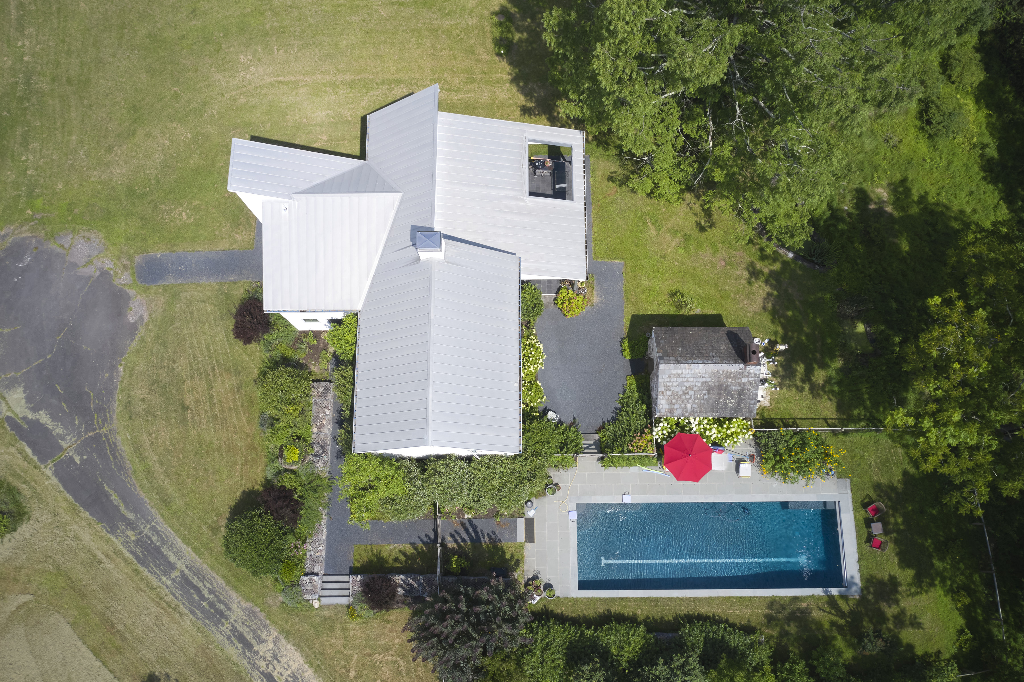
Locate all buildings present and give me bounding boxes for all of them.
[225,83,589,463]
[647,327,760,418]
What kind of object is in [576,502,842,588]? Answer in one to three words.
swimming pool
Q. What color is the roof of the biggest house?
white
